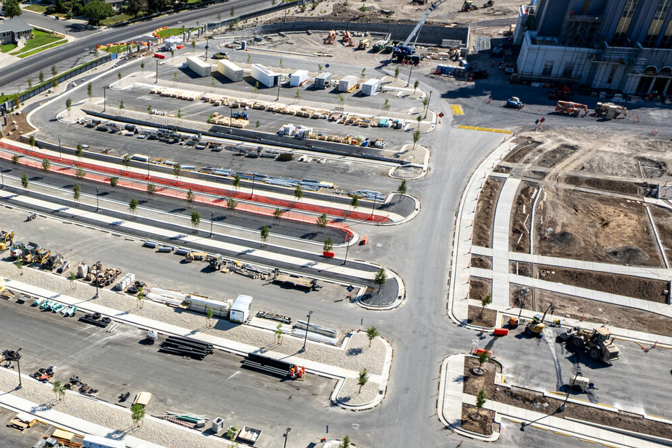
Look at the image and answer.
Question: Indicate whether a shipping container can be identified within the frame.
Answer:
Yes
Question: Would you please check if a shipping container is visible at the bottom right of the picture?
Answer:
No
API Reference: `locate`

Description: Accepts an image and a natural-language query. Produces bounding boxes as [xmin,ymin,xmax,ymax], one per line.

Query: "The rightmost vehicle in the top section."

[594,99,630,118]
